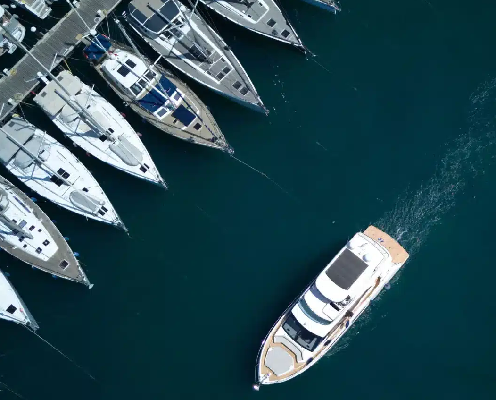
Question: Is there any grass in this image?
No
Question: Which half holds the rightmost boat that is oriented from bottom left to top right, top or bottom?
bottom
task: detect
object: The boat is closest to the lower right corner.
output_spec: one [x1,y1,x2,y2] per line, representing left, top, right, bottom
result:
[254,230,406,388]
